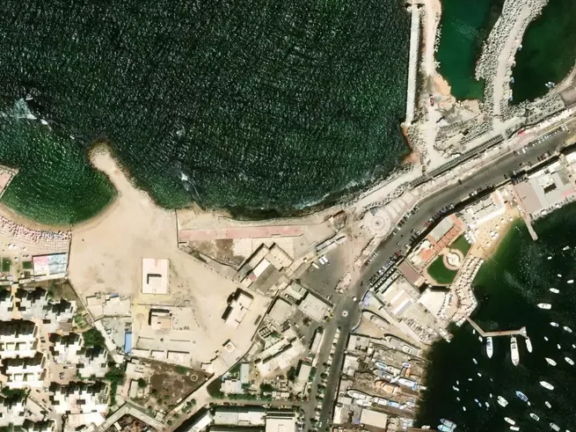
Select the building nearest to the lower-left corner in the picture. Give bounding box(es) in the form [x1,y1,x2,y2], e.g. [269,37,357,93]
[0,397,26,426]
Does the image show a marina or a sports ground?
marina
